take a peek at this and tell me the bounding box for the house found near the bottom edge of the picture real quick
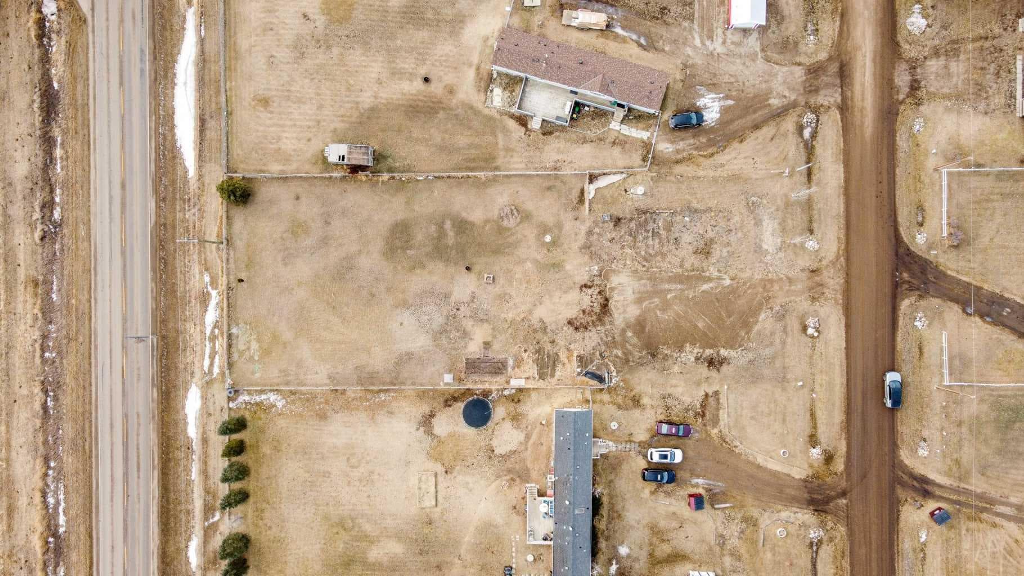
[552,406,593,576]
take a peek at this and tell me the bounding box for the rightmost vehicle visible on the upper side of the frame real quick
[668,110,704,129]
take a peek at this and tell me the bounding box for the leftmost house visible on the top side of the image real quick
[492,28,669,117]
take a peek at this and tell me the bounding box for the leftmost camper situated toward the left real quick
[324,144,376,167]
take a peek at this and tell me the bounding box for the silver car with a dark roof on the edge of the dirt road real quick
[882,371,902,408]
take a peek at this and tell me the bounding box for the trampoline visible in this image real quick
[462,396,493,428]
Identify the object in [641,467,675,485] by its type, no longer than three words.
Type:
car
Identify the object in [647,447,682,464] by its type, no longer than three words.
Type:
car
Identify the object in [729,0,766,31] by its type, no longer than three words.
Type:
shed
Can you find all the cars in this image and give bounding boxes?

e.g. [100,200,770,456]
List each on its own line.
[647,447,682,464]
[882,371,902,408]
[655,421,692,439]
[668,110,704,129]
[641,467,675,485]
